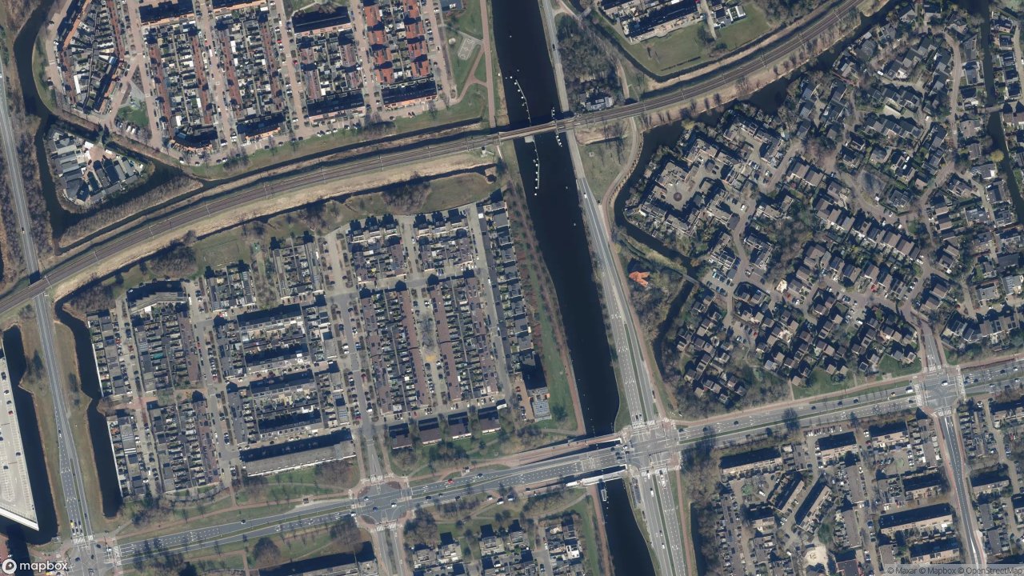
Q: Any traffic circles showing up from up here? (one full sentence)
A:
No, no traffic circle is visible in the scene.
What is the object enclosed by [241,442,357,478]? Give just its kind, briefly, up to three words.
building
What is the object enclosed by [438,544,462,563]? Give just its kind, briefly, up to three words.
house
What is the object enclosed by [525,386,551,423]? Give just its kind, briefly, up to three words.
building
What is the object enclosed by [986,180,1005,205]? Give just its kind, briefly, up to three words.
house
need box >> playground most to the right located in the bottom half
[804,546,828,569]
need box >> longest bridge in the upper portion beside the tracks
[497,114,575,145]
